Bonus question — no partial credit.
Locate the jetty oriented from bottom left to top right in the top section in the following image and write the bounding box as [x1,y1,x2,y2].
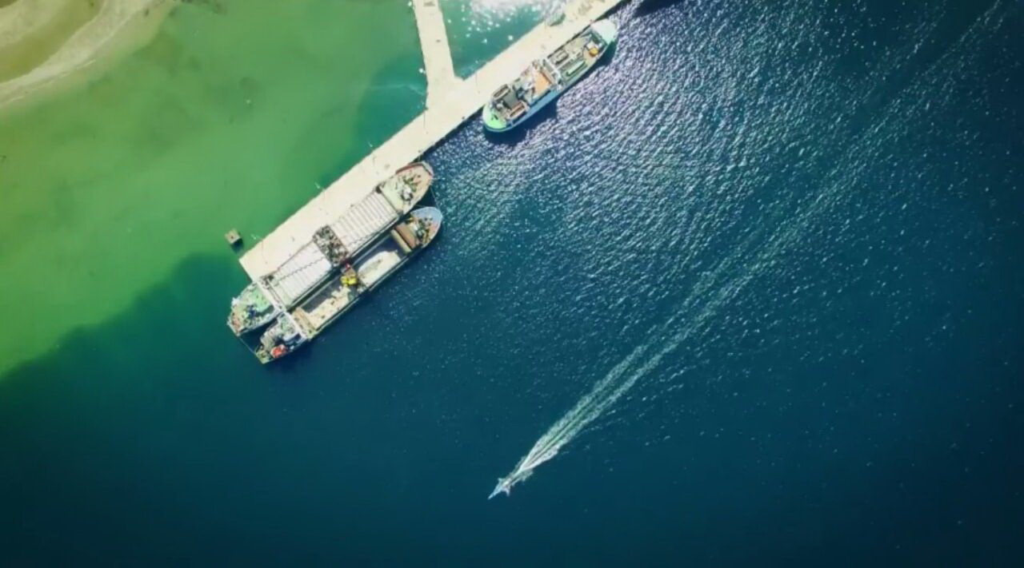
[240,0,620,281]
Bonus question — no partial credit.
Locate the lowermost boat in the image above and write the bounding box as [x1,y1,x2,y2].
[487,479,512,501]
